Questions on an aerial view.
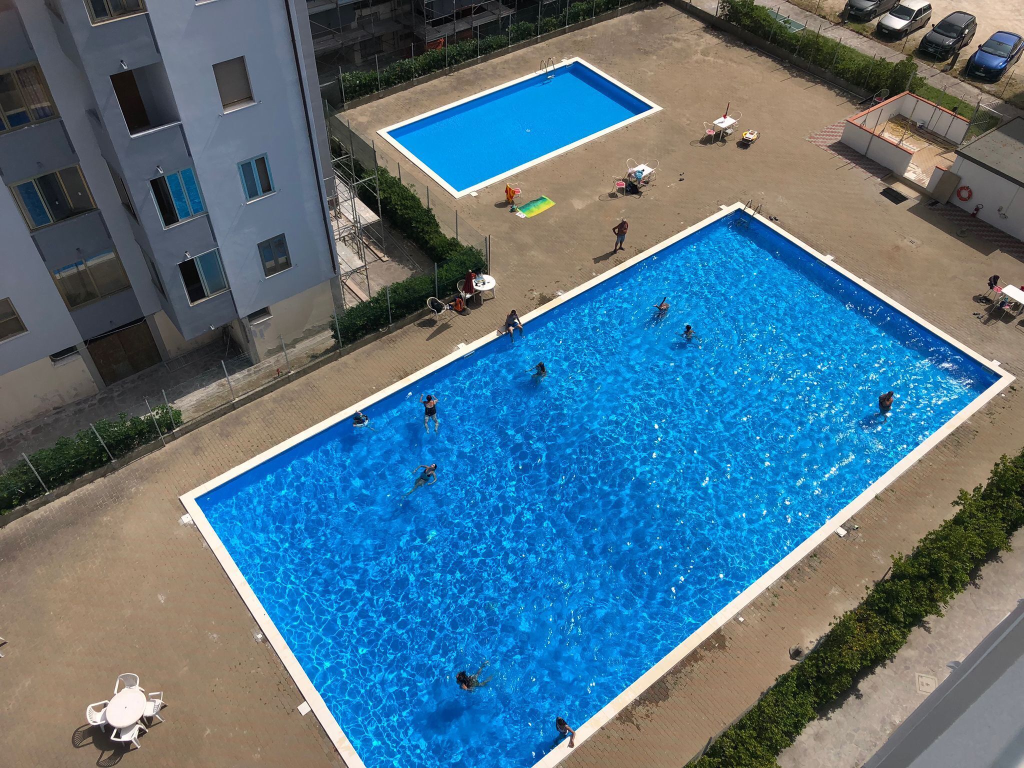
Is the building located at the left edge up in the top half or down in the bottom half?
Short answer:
top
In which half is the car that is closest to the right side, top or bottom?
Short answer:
top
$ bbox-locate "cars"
[880,0,936,40]
[921,8,988,63]
[969,32,1024,83]
[843,0,898,23]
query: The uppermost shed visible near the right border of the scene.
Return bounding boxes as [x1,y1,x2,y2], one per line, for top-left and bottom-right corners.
[943,109,1024,242]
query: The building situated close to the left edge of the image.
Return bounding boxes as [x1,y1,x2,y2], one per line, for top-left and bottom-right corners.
[0,0,341,435]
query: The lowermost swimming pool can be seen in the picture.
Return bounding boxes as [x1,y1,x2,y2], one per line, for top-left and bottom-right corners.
[178,202,1015,768]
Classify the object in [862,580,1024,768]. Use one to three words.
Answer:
building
